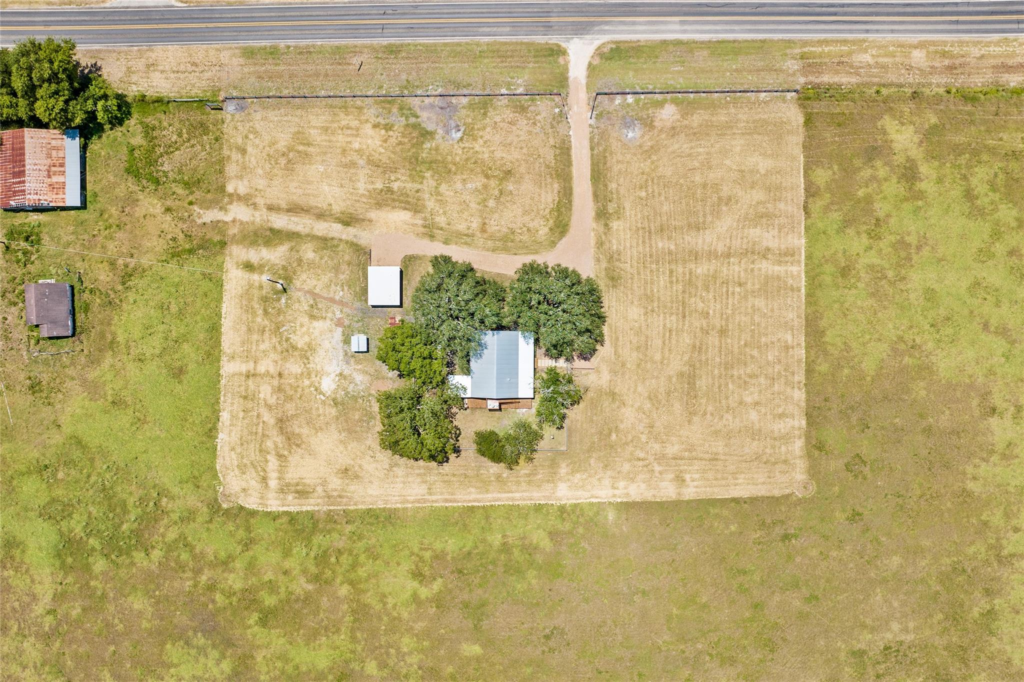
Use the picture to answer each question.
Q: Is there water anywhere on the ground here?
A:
No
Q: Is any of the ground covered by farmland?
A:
Yes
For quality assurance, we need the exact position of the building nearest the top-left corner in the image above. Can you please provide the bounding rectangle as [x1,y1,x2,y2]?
[0,129,91,211]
